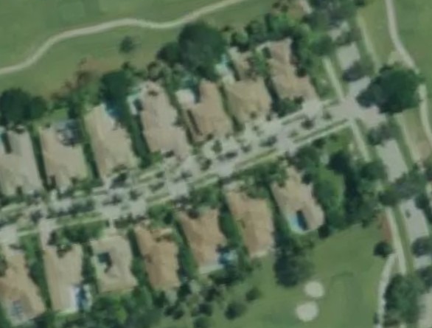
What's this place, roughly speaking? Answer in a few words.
residential area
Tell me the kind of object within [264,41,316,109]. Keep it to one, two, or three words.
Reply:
house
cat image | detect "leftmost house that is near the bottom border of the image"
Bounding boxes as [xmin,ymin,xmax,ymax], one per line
[0,247,51,323]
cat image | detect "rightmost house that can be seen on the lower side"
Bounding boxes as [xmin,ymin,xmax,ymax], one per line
[275,167,323,237]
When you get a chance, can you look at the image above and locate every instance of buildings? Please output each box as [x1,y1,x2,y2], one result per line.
[33,123,88,188]
[135,81,188,159]
[0,124,41,200]
[180,205,229,270]
[44,243,92,314]
[138,224,183,293]
[213,54,270,122]
[264,41,316,109]
[79,105,137,177]
[185,77,230,144]
[90,235,139,295]
[275,167,323,237]
[0,247,51,323]
[230,189,278,259]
